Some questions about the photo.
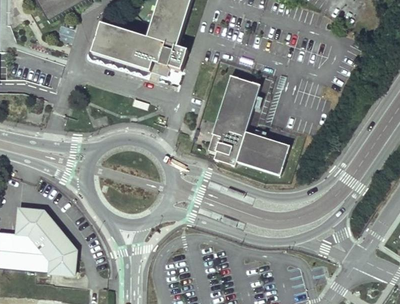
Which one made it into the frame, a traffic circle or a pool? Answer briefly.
traffic circle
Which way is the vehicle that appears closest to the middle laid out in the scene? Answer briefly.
at an angle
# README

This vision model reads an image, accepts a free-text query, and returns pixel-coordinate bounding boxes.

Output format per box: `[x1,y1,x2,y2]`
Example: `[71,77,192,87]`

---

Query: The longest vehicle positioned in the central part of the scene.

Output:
[164,153,189,174]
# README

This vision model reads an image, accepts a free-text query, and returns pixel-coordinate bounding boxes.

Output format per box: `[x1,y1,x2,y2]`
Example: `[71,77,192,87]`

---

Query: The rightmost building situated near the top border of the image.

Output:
[90,0,193,93]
